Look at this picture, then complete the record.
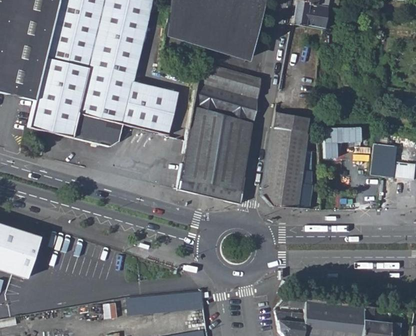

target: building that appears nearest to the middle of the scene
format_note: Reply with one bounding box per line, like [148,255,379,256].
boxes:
[180,108,253,205]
